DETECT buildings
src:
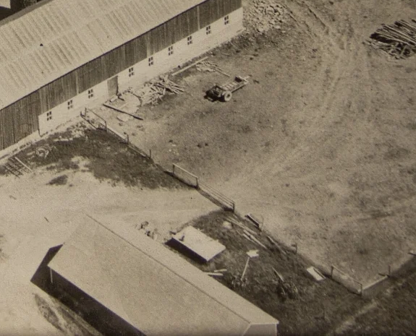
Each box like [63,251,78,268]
[46,215,279,336]
[0,0,244,158]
